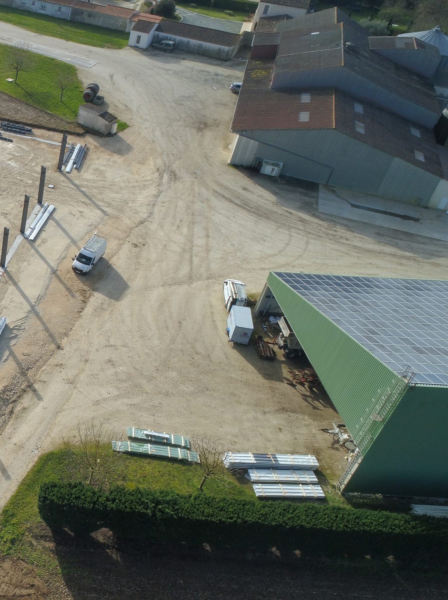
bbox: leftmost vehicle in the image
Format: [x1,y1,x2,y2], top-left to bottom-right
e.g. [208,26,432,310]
[74,234,111,274]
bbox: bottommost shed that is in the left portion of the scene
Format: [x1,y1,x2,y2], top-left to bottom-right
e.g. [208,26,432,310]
[78,101,124,135]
